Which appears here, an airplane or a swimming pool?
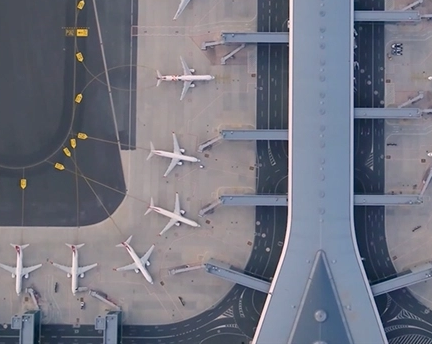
airplane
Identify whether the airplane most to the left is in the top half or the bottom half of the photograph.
bottom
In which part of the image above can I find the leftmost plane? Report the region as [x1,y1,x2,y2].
[0,244,41,296]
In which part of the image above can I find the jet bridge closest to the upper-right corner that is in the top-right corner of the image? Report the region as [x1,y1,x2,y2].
[354,0,432,24]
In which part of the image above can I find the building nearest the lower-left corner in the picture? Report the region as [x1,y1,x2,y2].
[10,308,43,344]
